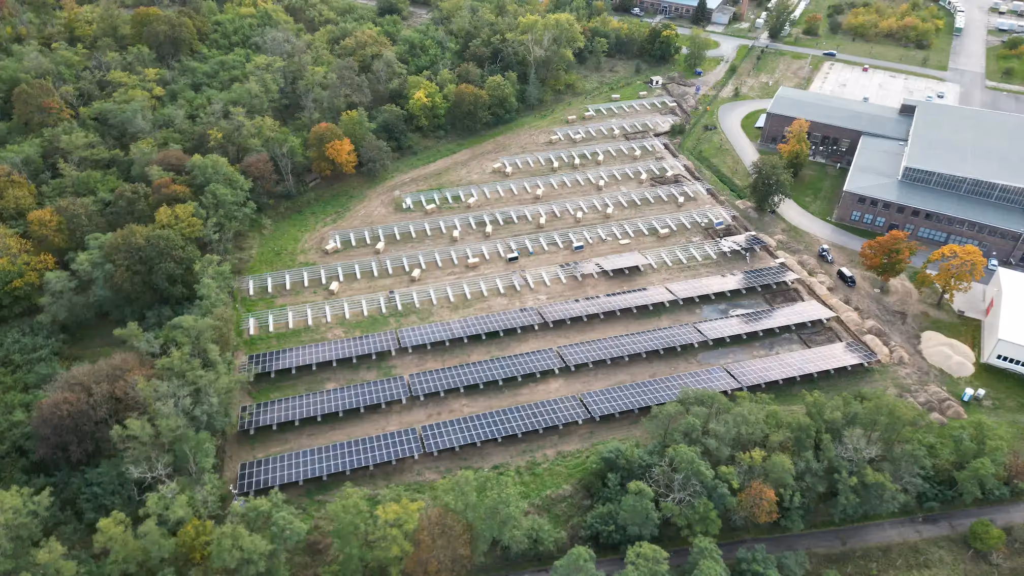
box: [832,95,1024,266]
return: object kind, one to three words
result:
building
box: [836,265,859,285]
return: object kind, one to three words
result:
vehicle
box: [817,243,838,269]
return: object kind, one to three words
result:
work vehicle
